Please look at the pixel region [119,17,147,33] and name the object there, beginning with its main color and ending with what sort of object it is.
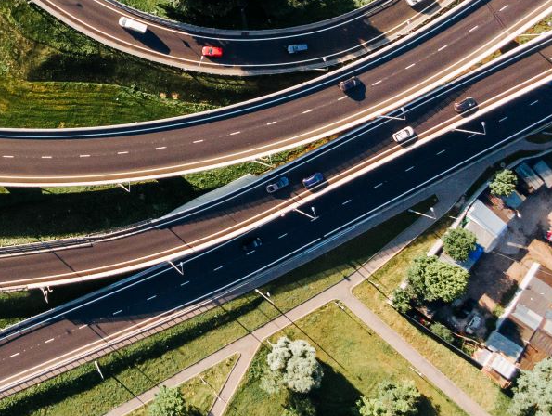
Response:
white vehicle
